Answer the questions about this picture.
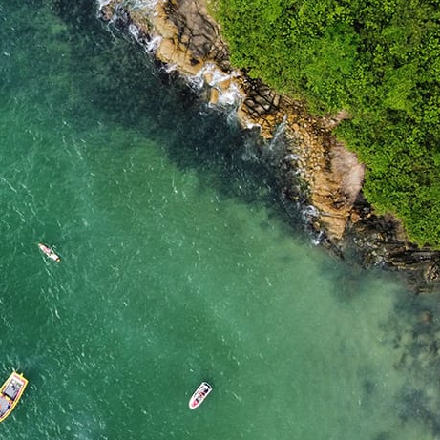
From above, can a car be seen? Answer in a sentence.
No, the picture doesn't show any car.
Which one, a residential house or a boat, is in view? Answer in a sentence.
Visible in the photo is a boat.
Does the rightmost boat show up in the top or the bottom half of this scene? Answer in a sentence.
You can find the rightmost boat in the bottom half.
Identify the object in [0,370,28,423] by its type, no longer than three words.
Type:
boat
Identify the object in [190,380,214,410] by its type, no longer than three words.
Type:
boat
